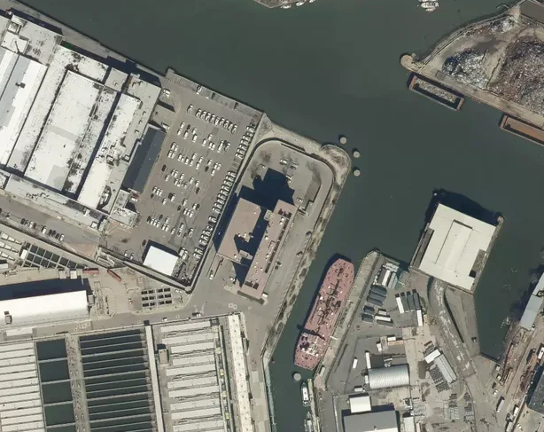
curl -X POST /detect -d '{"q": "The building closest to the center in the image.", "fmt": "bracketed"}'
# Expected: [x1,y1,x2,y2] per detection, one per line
[217,197,298,301]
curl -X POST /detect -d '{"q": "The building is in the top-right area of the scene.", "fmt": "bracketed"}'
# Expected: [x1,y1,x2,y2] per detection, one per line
[519,1,544,24]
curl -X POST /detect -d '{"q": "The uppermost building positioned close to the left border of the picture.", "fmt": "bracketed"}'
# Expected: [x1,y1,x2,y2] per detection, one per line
[0,17,161,232]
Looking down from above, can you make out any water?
Yes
